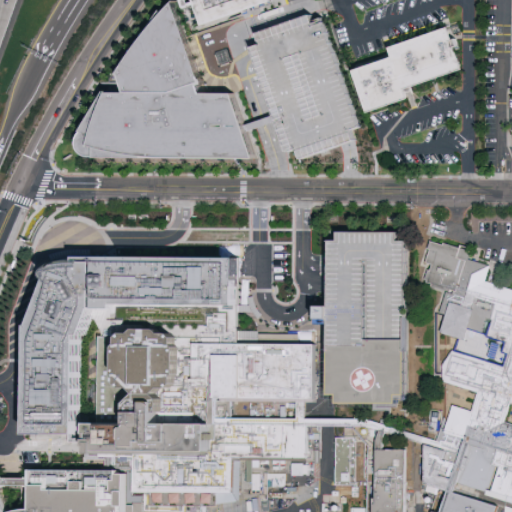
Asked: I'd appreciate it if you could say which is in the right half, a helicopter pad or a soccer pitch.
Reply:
helicopter pad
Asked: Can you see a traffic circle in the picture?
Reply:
No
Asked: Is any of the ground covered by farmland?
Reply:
No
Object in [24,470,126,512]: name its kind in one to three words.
building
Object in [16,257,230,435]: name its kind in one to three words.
building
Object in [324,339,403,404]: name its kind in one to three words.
helipad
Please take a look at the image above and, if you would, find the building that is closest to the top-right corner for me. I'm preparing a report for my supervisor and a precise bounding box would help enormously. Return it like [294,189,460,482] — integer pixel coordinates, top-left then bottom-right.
[350,27,462,112]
